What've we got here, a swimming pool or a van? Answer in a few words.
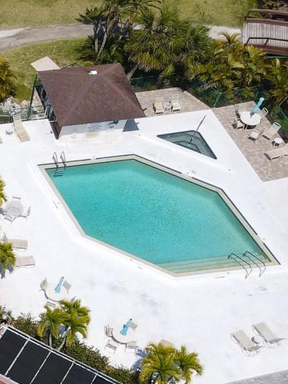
swimming pool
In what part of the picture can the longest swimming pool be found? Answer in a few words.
center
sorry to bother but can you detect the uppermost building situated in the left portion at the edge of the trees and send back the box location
[34,65,142,146]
